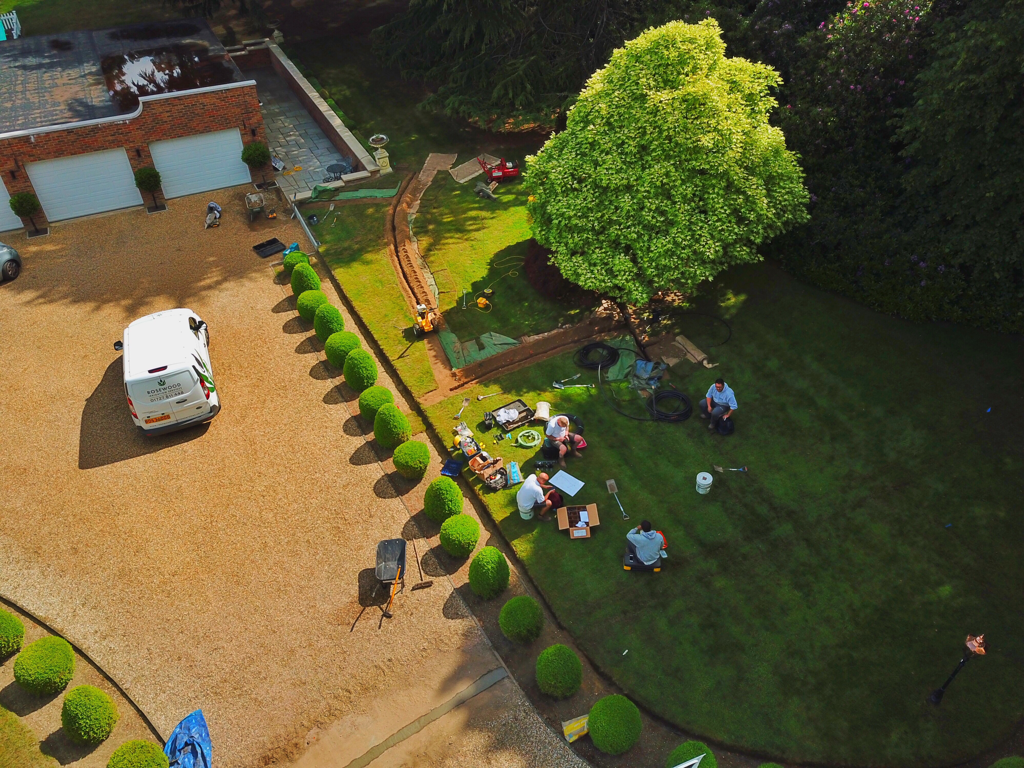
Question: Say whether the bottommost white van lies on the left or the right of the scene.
left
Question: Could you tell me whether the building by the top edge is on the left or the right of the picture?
left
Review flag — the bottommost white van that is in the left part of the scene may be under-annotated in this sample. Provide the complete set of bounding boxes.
[110,302,224,437]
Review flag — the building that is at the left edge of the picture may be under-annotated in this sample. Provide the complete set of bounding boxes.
[0,16,276,230]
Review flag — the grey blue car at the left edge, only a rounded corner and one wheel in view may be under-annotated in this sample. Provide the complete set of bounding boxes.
[0,230,27,280]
